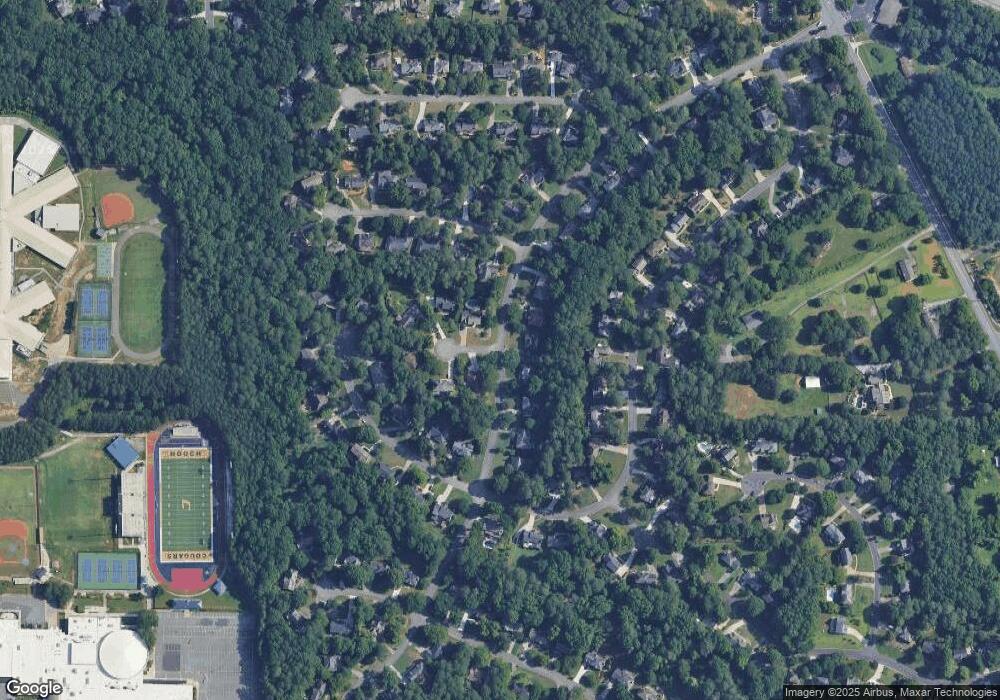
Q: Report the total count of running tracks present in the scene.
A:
two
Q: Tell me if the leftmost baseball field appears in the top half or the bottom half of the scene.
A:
bottom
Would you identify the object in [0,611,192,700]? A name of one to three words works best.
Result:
building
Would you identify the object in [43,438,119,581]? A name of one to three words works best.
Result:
sports field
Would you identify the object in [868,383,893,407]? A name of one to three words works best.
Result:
house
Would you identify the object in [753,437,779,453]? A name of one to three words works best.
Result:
house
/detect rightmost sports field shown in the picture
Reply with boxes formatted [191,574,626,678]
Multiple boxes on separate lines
[159,447,213,562]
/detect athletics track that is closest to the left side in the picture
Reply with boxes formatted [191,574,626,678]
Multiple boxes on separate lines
[111,224,176,362]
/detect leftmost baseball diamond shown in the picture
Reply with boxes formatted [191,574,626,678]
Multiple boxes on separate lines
[0,464,38,575]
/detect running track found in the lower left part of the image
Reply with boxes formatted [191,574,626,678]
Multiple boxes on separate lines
[146,424,228,597]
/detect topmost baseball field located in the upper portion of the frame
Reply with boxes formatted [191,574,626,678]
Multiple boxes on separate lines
[93,168,162,227]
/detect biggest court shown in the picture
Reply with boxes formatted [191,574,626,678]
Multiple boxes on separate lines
[97,243,112,277]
